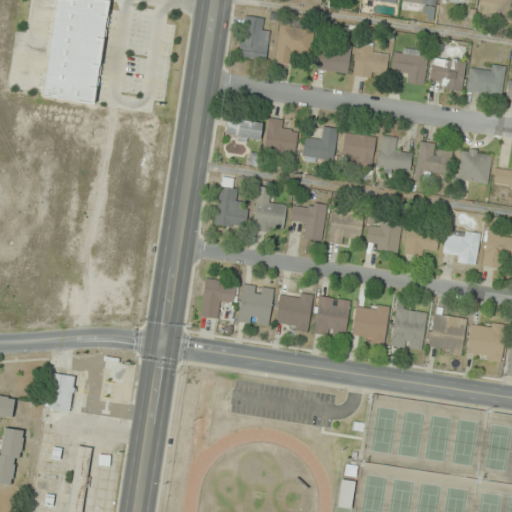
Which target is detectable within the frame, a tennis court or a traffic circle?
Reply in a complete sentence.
The image shows a tennis court.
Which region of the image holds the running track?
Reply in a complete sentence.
The running track appears toward the bottom of the photo.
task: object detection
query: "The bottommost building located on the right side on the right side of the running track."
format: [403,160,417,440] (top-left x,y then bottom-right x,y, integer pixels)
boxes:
[338,480,356,510]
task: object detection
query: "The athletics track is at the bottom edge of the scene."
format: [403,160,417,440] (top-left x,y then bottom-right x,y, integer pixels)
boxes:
[181,427,334,512]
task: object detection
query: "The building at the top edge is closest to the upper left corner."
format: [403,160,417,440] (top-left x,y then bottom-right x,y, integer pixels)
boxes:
[45,0,112,106]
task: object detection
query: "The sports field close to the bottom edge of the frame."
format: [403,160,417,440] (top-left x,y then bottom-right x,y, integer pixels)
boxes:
[196,442,318,512]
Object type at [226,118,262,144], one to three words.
house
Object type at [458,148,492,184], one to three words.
house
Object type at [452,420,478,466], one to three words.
tennis court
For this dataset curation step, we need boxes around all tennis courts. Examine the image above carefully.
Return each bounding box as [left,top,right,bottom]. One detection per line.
[362,476,386,512]
[452,420,478,466]
[371,408,396,454]
[444,488,468,512]
[416,484,440,512]
[390,480,414,512]
[486,425,511,471]
[479,493,501,512]
[398,412,424,458]
[426,416,450,462]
